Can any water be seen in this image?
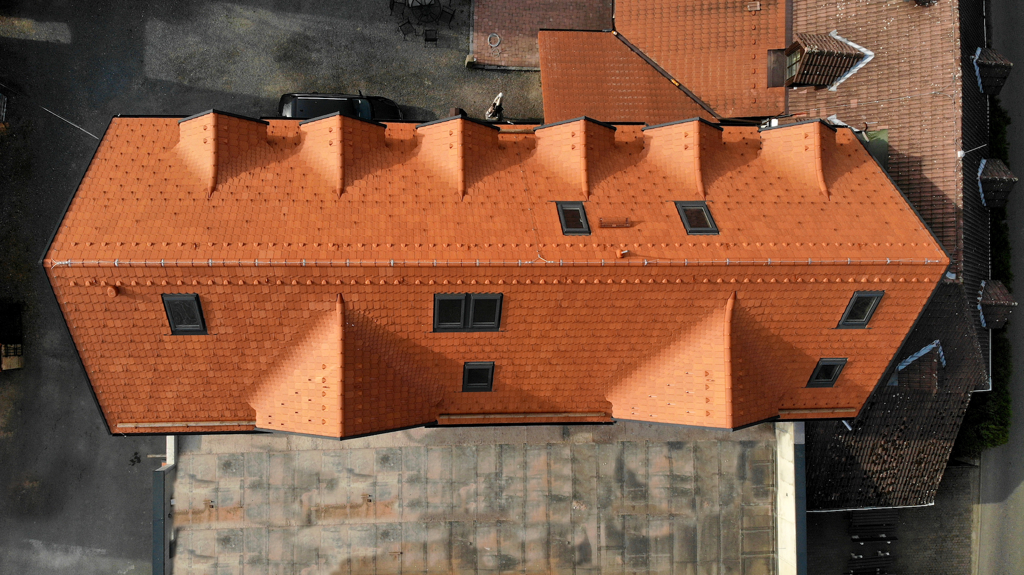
No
